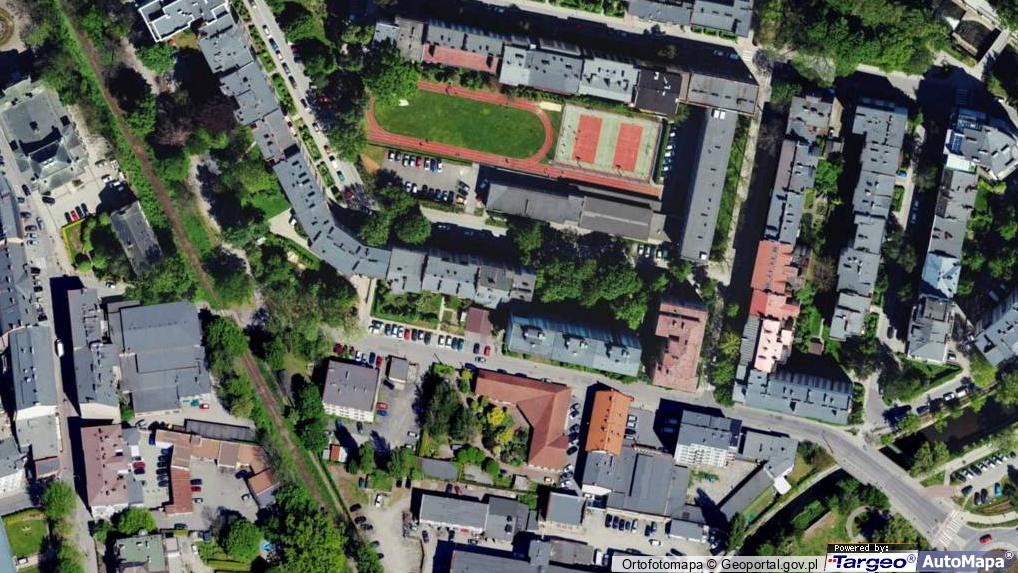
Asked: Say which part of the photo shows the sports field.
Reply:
top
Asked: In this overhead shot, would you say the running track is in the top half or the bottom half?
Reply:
top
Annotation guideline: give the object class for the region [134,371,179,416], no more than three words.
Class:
building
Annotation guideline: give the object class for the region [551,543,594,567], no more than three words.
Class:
shed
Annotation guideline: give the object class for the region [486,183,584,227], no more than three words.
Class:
building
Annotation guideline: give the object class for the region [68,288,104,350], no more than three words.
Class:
house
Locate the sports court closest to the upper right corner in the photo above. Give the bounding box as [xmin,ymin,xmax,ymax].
[556,102,663,183]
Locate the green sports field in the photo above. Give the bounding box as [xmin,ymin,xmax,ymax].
[375,91,544,160]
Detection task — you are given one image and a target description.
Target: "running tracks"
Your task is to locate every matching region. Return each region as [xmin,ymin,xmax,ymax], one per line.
[367,82,662,195]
